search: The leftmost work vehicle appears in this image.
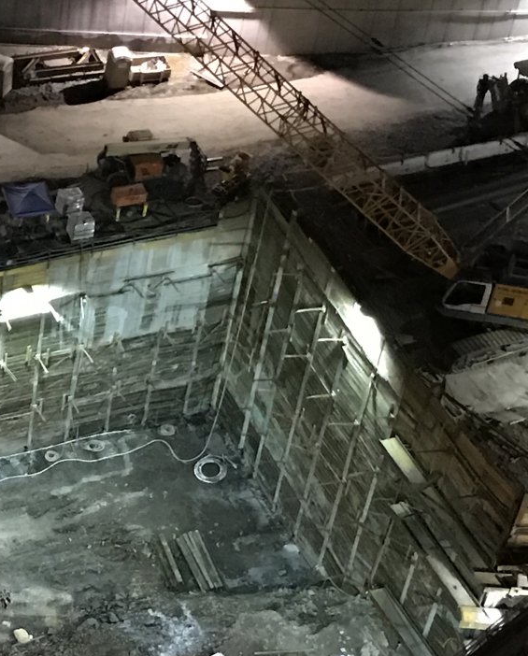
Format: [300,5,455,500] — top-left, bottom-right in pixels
[113,135,229,195]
